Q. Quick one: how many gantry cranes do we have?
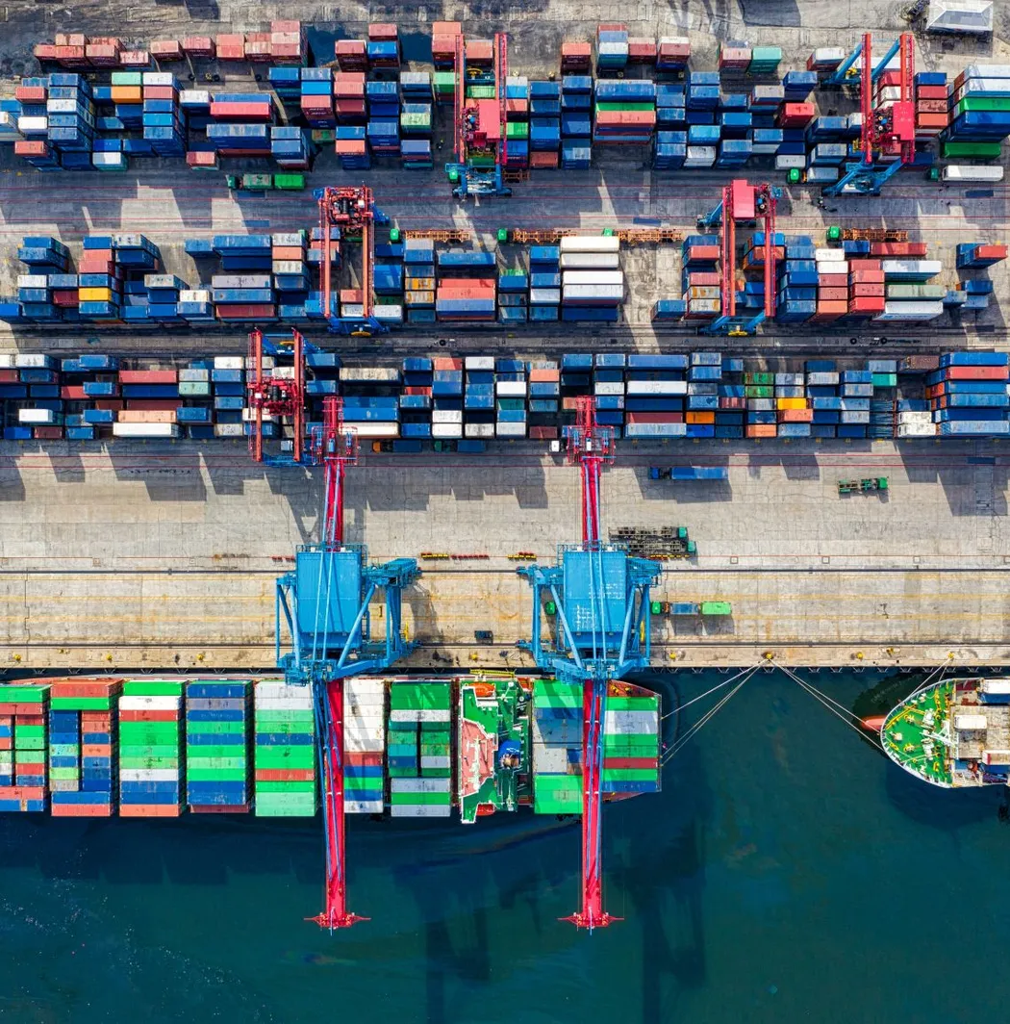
7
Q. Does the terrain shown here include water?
Yes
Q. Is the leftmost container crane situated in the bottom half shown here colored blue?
Yes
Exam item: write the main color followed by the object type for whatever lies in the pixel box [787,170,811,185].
green vehicle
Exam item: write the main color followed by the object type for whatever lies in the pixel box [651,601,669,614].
green vehicle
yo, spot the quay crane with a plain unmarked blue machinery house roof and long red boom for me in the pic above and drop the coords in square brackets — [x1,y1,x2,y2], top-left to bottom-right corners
[271,399,423,935]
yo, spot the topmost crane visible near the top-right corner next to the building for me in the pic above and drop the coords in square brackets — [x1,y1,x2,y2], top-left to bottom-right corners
[825,34,917,196]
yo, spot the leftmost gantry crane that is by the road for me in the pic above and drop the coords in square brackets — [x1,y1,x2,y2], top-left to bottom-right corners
[250,332,326,469]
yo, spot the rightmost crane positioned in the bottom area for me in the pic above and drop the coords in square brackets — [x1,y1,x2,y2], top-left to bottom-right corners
[510,399,663,935]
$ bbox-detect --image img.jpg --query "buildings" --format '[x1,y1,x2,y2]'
[924,0,992,34]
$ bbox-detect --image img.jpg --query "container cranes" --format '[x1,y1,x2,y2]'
[318,183,388,337]
[825,34,917,196]
[700,175,780,337]
[271,399,423,935]
[510,399,663,935]
[250,332,326,469]
[450,34,510,197]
